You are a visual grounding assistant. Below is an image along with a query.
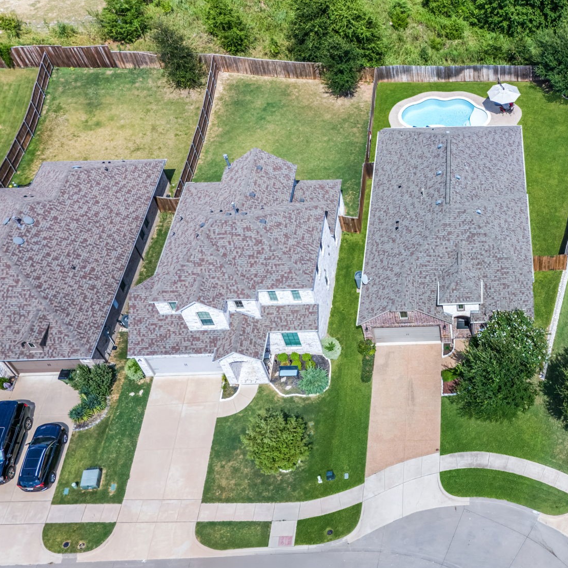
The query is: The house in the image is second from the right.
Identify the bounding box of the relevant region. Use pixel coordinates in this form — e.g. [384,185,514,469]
[125,144,342,382]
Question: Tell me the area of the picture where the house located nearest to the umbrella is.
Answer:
right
